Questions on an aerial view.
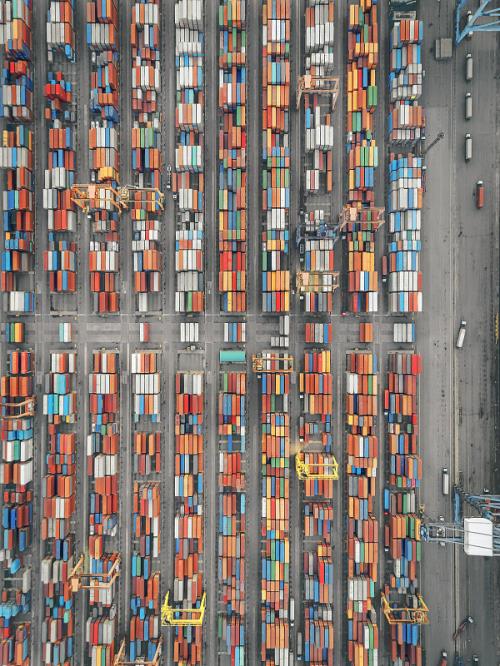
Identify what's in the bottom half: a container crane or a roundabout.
container crane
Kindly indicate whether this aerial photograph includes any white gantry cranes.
Yes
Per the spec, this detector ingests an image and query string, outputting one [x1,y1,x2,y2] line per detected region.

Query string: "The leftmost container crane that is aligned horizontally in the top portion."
[71,185,123,210]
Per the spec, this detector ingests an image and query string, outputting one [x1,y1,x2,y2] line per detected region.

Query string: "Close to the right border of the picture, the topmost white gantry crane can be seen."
[419,485,500,557]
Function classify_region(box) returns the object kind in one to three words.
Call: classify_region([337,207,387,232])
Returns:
container crane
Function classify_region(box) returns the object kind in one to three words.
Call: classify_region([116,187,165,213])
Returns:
container crane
